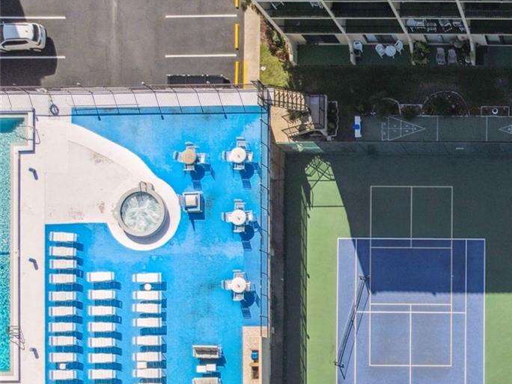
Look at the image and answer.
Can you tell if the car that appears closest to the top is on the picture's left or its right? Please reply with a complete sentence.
The car that appears closest to the top appears in the left half of the scene.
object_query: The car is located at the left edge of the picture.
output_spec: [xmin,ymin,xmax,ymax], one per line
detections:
[0,19,47,53]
